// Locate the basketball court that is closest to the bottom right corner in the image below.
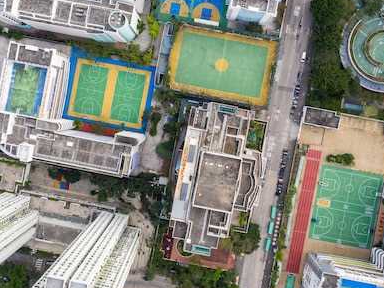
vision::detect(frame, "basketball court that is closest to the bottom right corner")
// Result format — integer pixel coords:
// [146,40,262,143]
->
[306,166,384,251]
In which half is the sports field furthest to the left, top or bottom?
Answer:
top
